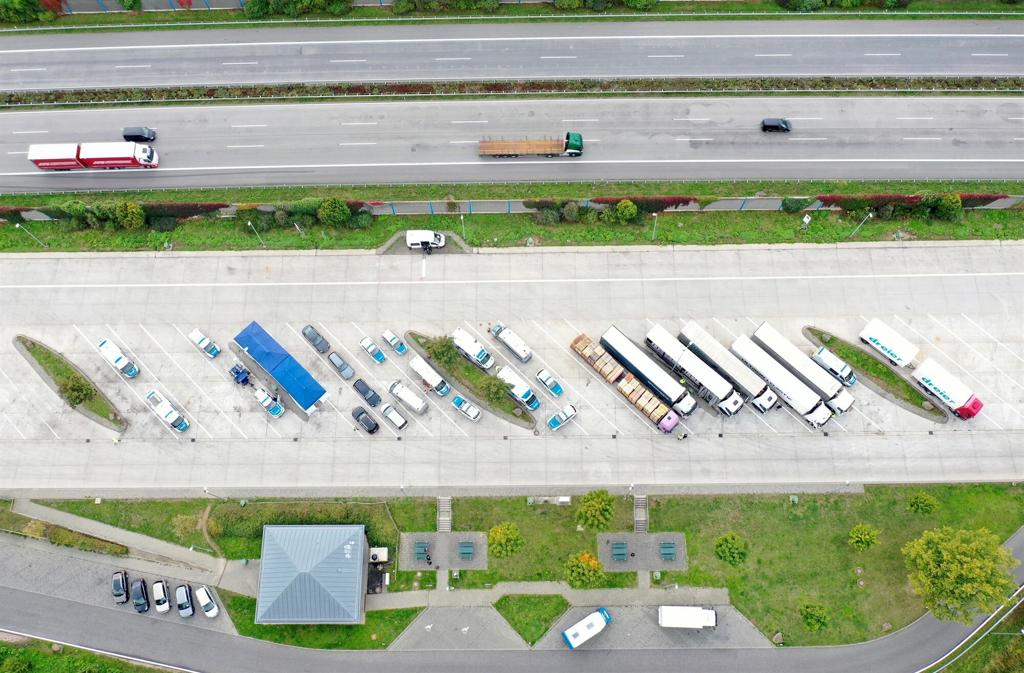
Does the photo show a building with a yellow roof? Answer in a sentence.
No, this view has no building with a yellow roof in it.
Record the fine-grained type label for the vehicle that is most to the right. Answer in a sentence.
It looks like the vehicle that is most to the right is a truck.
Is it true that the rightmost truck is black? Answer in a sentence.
No, the color of the rightmost truck is white.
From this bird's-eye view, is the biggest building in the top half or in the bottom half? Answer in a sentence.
Seen from above, the biggest building lies in the bottom half of the view.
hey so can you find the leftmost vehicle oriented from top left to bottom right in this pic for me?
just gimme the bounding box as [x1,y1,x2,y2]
[95,336,142,381]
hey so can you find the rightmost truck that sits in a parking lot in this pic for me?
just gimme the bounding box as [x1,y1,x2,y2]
[857,319,983,423]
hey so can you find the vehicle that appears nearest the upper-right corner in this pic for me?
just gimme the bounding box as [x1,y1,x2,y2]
[759,118,792,135]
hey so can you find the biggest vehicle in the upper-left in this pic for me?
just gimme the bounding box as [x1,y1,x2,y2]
[28,142,163,172]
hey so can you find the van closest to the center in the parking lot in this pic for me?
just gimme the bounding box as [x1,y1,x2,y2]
[492,325,533,366]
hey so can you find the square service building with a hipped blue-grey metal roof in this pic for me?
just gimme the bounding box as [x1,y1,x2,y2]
[254,525,366,624]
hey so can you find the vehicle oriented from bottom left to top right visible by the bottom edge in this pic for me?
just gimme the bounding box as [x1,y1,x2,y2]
[562,606,611,649]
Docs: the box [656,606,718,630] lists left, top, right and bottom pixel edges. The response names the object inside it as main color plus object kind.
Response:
white truck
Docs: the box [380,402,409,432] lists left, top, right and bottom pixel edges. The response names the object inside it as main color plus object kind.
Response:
white car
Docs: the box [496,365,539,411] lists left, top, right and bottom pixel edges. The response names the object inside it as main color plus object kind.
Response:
white van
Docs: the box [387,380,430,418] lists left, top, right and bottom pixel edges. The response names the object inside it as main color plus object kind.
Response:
white van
